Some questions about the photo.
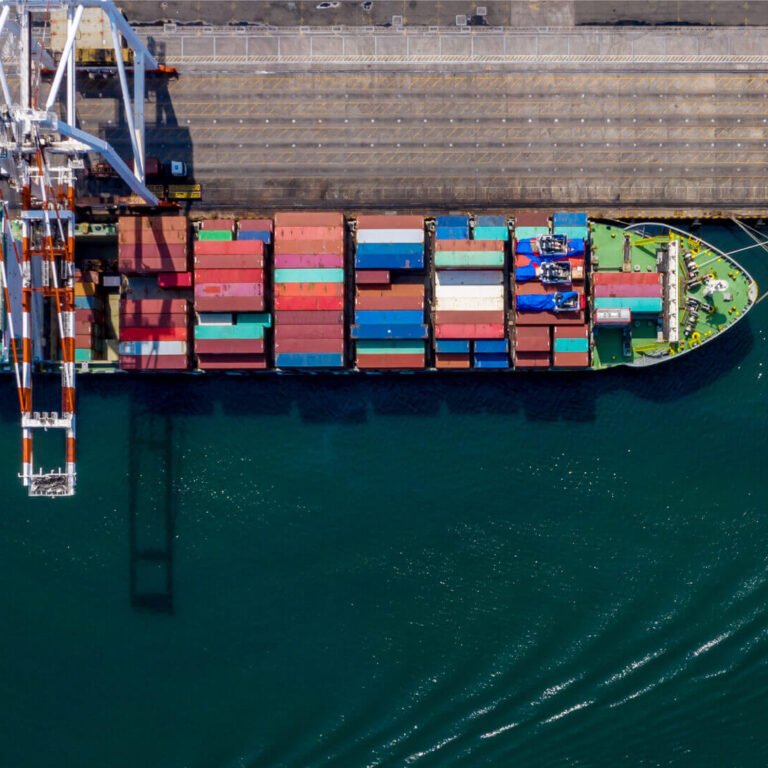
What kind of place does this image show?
port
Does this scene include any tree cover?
No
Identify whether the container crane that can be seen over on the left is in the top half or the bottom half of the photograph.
top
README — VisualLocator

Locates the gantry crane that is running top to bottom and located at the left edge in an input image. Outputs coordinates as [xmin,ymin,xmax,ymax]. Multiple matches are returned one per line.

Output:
[0,0,182,501]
